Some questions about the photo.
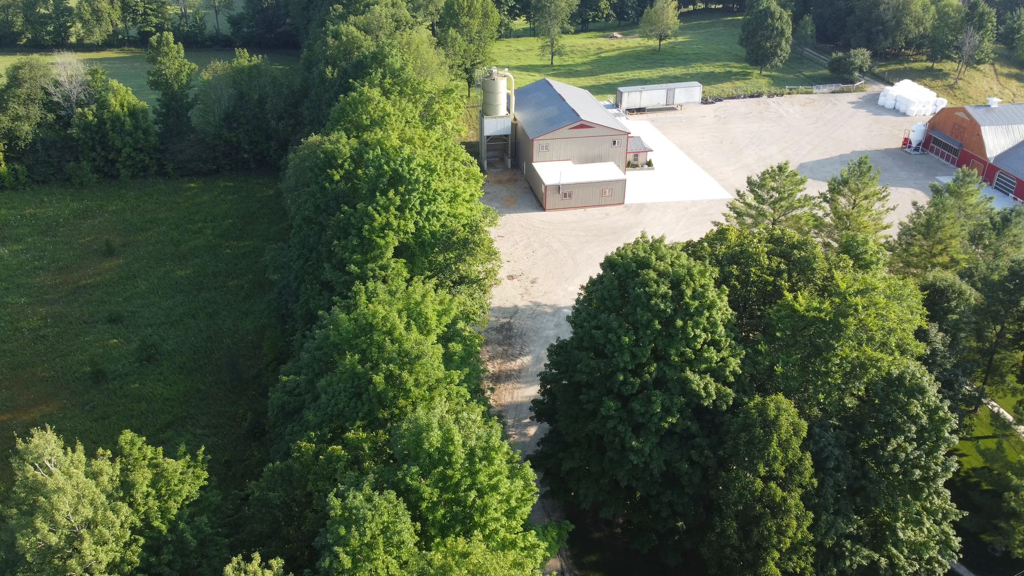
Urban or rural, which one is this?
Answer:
rural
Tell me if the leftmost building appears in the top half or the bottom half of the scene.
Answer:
top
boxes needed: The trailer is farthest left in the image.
[618,80,704,112]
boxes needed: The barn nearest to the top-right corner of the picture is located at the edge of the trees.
[918,93,1024,204]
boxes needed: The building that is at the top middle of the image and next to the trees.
[507,77,655,211]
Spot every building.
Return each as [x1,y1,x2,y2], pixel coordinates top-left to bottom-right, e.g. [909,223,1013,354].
[918,93,1024,204]
[507,77,655,211]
